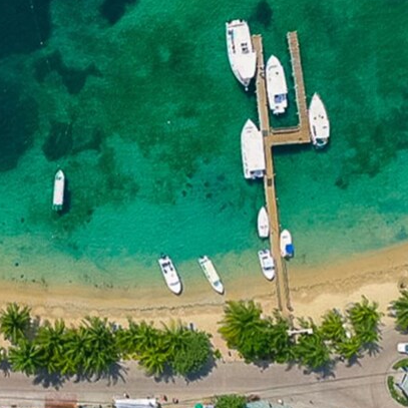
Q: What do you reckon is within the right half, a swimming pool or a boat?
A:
boat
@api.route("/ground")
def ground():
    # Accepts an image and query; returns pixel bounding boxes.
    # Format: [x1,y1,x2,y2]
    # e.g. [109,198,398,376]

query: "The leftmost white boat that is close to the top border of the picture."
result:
[224,18,258,88]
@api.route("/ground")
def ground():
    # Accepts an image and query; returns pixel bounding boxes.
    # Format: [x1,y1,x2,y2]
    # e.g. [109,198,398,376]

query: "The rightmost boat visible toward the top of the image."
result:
[302,92,331,152]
